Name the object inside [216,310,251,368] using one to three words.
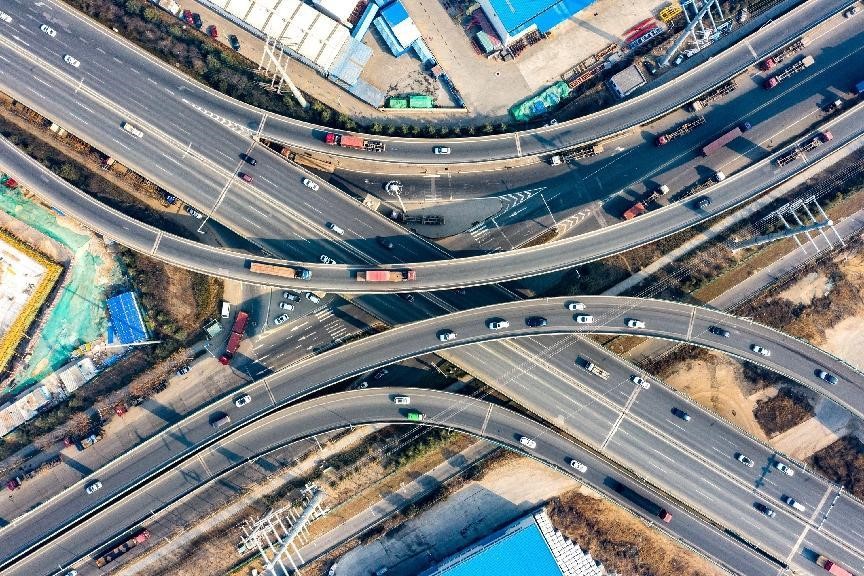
truck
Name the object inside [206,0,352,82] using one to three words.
shed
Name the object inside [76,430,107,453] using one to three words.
truck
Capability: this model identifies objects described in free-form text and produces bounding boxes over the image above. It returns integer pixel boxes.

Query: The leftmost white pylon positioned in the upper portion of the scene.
[263,31,307,109]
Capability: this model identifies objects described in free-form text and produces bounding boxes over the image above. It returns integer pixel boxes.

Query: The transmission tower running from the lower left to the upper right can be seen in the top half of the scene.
[660,0,742,67]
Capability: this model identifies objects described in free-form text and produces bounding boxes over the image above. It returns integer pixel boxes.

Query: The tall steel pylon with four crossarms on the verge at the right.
[727,197,845,256]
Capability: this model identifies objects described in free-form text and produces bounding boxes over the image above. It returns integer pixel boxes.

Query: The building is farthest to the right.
[607,64,645,101]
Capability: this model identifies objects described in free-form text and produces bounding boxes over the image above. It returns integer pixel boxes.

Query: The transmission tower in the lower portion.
[256,487,328,576]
